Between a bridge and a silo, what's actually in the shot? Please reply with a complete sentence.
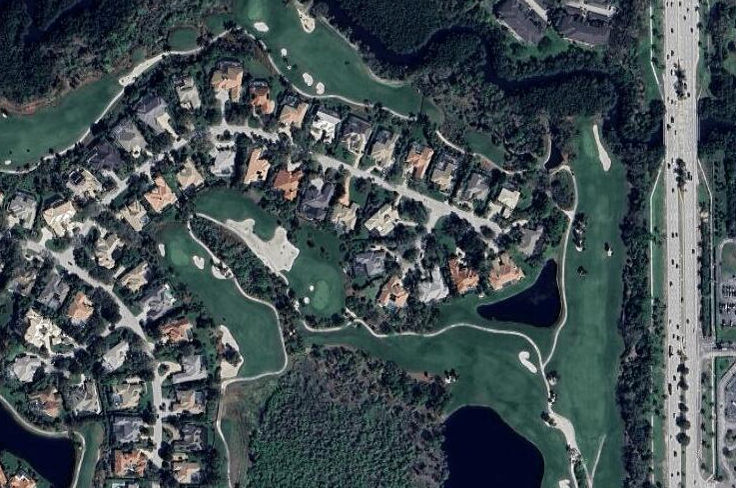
This aerial view contains a bridge.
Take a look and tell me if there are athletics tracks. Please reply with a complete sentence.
No, the photo shows no athletics track.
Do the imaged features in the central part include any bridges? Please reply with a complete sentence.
No, no bridge is visible in the central part.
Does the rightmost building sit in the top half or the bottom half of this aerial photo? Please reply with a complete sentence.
The top half of the photo is where the rightmost building is.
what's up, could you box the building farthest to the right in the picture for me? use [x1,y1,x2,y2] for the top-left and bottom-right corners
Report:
[558,13,611,48]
